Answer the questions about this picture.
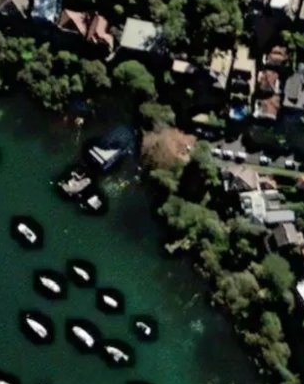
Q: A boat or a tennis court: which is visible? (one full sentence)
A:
I can see a boat in this picture.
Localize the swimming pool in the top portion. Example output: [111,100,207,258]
[228,106,248,119]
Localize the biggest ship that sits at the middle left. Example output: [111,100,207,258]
[62,172,91,193]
